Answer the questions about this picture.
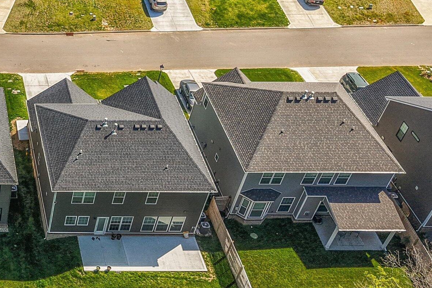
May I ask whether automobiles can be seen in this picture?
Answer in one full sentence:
Yes, there is an automobile in the image.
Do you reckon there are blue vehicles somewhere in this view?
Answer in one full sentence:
No, the scene contains no blue vehicle.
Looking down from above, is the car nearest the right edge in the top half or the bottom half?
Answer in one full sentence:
Seen from above, the car nearest the right edge lies in the top half of the view.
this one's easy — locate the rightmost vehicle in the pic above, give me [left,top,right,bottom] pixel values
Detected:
[338,66,372,92]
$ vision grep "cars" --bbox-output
[338,66,372,92]
[148,0,170,11]
[305,0,326,5]
[178,78,198,102]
